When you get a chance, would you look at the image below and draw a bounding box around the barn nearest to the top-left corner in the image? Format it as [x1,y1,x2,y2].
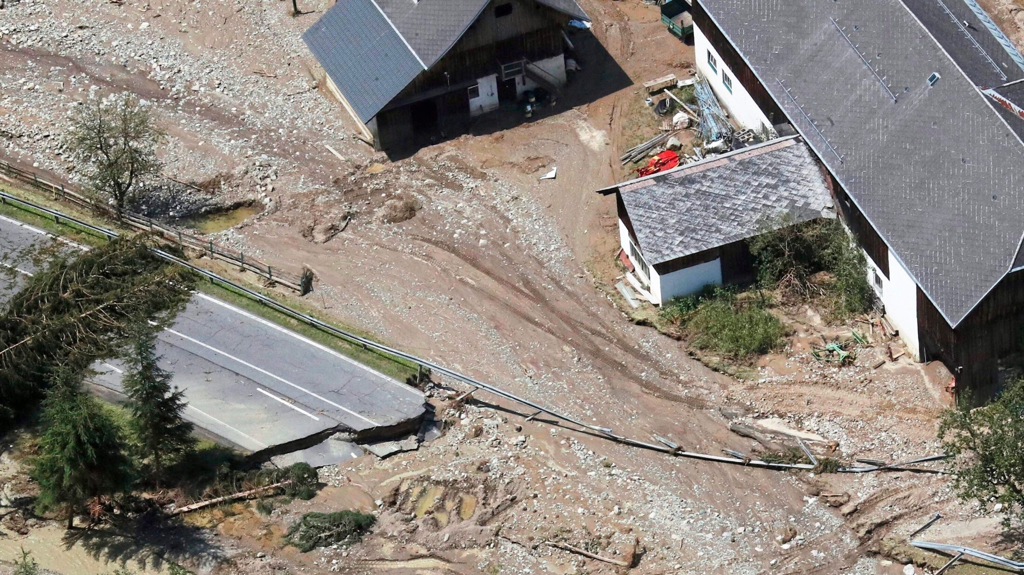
[297,0,591,151]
